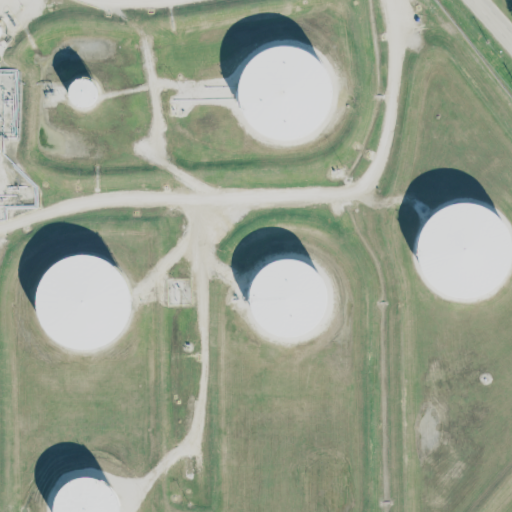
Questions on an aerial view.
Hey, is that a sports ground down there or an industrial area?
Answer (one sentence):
What you see here is an industrial area.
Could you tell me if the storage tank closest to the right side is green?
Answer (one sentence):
No, the storage tank closest to the right side is white.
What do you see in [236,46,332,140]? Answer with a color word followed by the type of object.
white storage tank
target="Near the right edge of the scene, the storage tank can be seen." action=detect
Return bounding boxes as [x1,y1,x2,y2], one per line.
[416,204,512,298]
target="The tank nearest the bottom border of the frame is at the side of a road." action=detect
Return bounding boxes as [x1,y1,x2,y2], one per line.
[50,476,118,512]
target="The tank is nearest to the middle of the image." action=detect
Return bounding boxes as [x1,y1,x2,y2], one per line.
[248,259,328,337]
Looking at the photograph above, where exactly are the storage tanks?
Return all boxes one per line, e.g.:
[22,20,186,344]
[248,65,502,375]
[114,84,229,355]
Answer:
[67,78,99,112]
[50,476,118,512]
[236,46,332,140]
[416,204,512,298]
[34,254,132,350]
[248,259,328,337]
